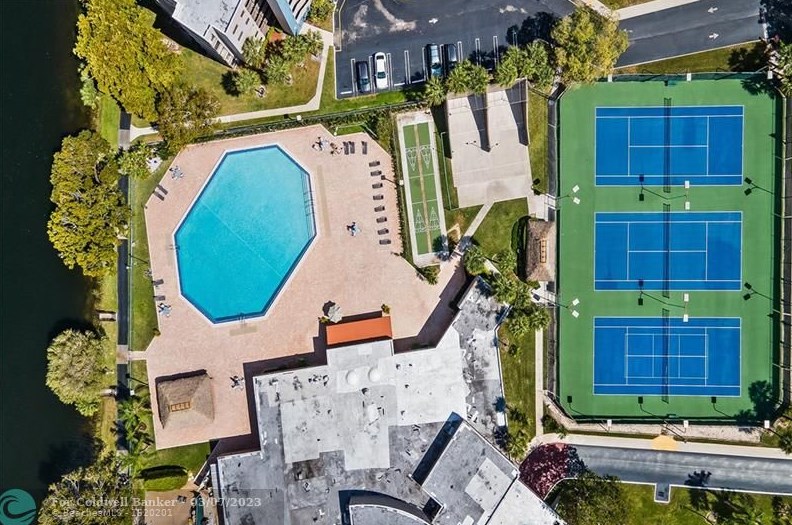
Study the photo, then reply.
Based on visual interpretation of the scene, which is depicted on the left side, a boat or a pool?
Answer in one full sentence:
There is a pool on the left side.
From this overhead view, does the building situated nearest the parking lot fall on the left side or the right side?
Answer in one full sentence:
The building situated nearest the parking lot is on the left side of the image.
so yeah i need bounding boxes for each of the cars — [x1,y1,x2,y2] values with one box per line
[374,51,389,88]
[355,60,370,93]
[444,43,459,74]
[427,44,443,82]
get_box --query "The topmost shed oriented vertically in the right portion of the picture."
[526,219,557,282]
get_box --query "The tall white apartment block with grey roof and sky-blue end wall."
[159,0,306,70]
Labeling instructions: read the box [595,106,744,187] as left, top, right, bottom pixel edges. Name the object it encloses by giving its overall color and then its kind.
blue tennis court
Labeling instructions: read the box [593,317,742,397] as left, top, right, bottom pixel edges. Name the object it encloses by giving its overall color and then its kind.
blue tennis court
